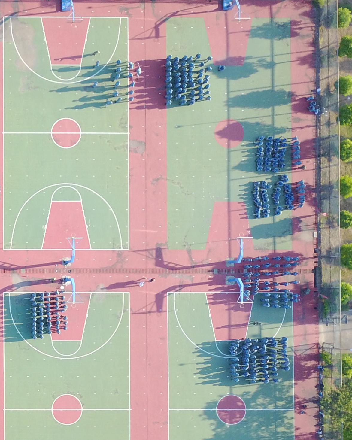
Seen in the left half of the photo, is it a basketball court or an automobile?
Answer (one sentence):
There is a basketball court in the left half of the photo.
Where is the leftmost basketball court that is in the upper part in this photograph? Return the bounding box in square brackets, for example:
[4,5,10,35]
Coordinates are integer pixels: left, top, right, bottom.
[2,16,130,250]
